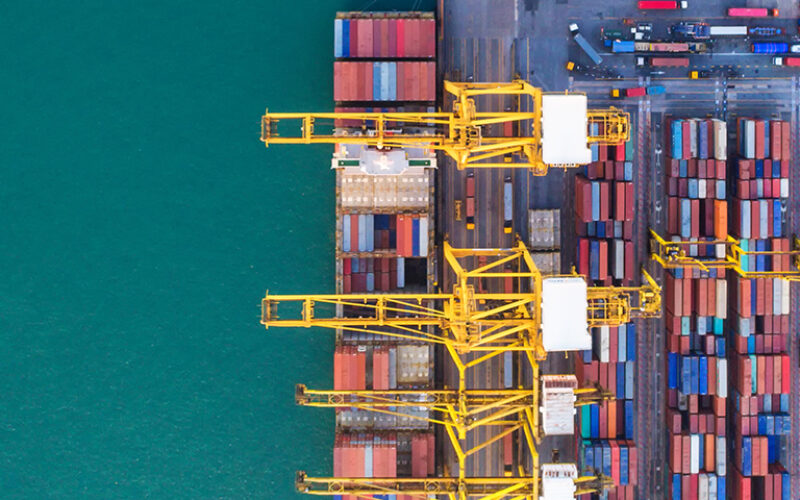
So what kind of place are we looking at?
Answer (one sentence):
This image shows a port.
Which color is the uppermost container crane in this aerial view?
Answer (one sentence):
The color of the uppermost container crane is yellow.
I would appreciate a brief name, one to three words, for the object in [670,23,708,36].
vehicle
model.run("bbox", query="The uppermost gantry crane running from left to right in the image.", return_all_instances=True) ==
[262,73,627,181]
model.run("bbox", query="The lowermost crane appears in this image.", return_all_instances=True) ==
[296,399,616,500]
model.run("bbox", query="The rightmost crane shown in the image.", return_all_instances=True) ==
[725,234,800,277]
